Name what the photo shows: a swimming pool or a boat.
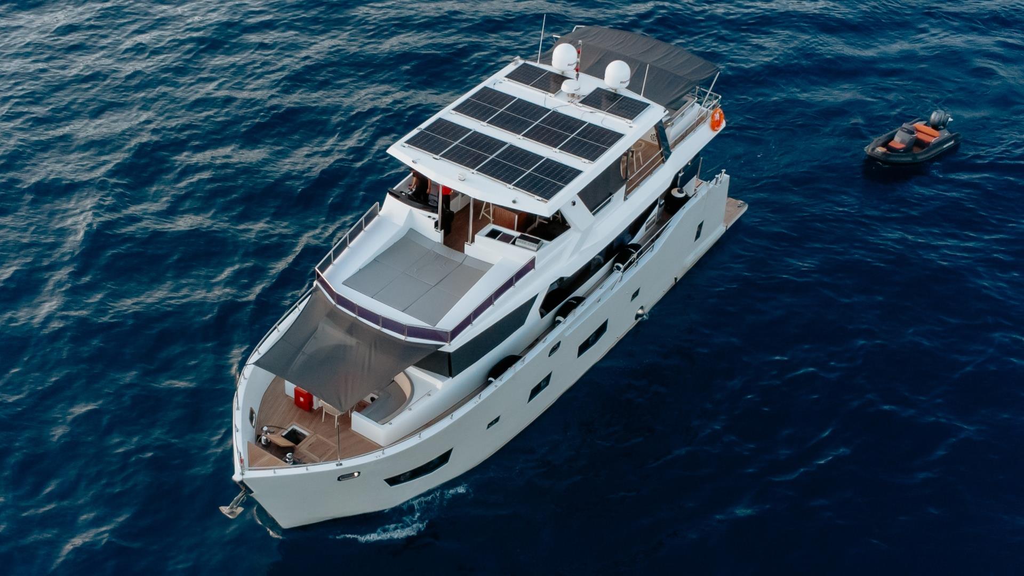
boat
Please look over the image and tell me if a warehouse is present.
No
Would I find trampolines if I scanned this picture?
No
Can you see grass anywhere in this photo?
No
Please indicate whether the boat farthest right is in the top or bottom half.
top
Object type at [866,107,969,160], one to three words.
boat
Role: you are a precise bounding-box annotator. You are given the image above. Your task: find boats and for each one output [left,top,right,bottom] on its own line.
[220,16,744,526]
[866,107,969,160]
